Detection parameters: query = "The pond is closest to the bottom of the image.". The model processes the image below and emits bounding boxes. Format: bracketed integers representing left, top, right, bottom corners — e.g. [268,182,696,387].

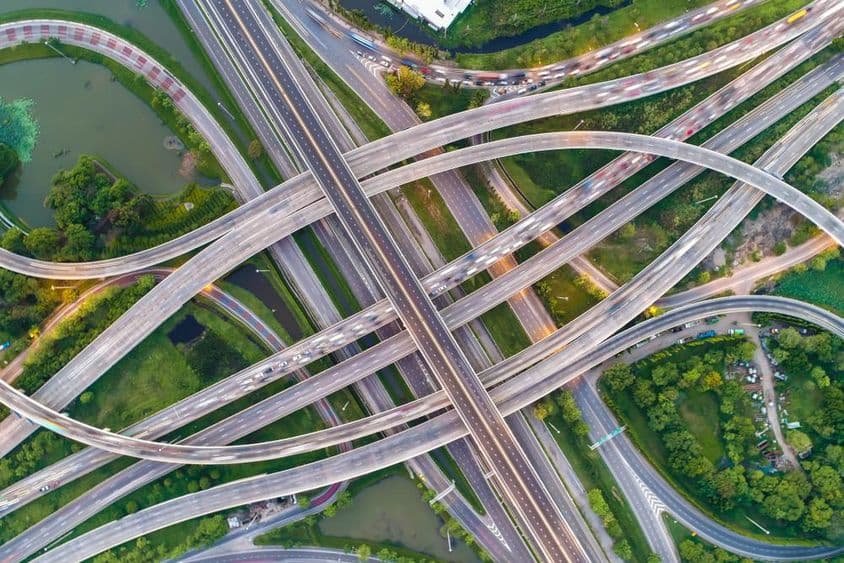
[316,474,487,563]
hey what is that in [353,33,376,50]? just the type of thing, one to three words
vehicle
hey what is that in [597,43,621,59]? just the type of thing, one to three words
vehicle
